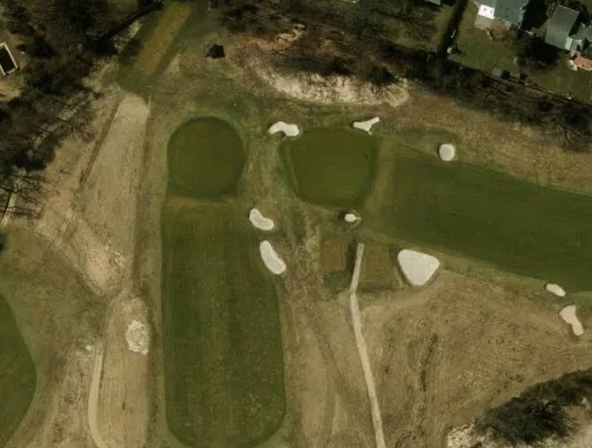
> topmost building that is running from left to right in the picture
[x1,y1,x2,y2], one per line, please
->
[478,0,529,23]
